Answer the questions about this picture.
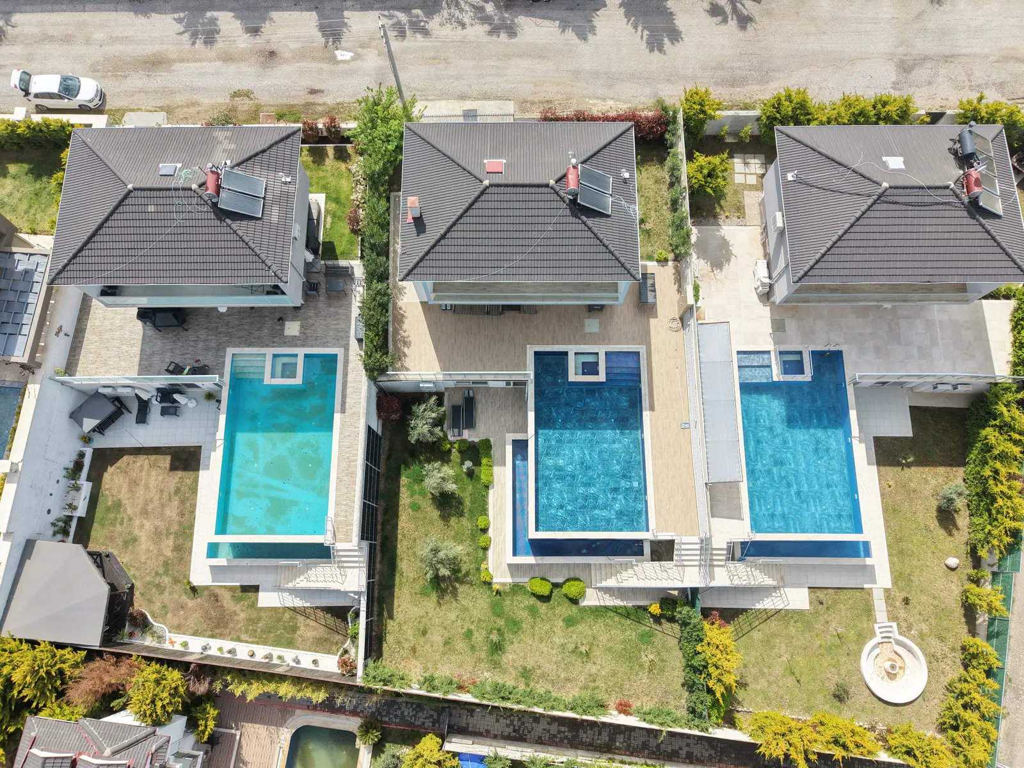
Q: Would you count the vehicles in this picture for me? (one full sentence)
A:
Just 1 vehicle appears in this view.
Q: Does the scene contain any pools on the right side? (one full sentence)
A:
Yes, a pool is visible on the right side.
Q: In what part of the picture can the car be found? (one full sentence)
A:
The car is in the top left part of the image.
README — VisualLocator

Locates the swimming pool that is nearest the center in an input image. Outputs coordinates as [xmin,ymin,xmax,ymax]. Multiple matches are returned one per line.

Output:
[507,346,656,564]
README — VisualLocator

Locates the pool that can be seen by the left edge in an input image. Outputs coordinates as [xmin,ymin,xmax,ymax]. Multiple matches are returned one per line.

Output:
[0,380,21,458]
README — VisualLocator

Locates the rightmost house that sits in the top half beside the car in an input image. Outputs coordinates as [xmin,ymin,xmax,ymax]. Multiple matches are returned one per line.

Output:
[41,126,311,304]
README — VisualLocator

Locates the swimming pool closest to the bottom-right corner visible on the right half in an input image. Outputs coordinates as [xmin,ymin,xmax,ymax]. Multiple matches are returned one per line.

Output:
[725,346,874,564]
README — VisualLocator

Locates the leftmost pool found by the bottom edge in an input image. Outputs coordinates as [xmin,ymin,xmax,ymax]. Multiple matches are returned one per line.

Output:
[278,714,373,768]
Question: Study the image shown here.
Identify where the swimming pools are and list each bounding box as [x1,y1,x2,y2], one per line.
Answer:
[507,346,656,564]
[725,346,874,564]
[205,346,347,564]
[0,380,21,458]
[278,714,373,768]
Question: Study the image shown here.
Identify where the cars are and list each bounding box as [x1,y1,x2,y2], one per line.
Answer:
[6,68,104,114]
